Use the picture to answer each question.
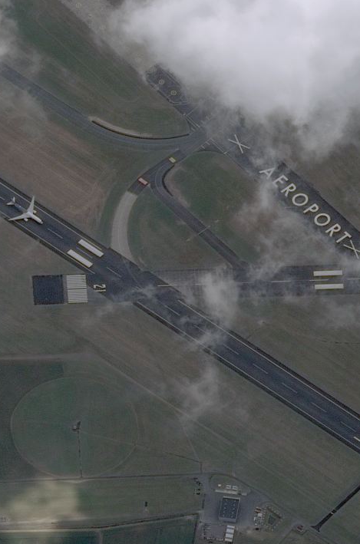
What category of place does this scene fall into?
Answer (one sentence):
It's an airport.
